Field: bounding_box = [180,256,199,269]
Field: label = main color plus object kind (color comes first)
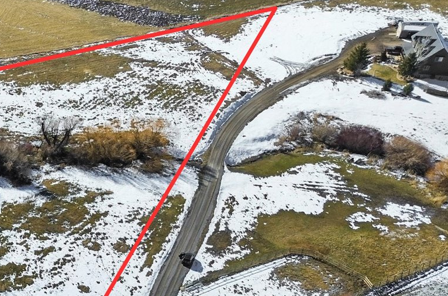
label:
black vehicle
